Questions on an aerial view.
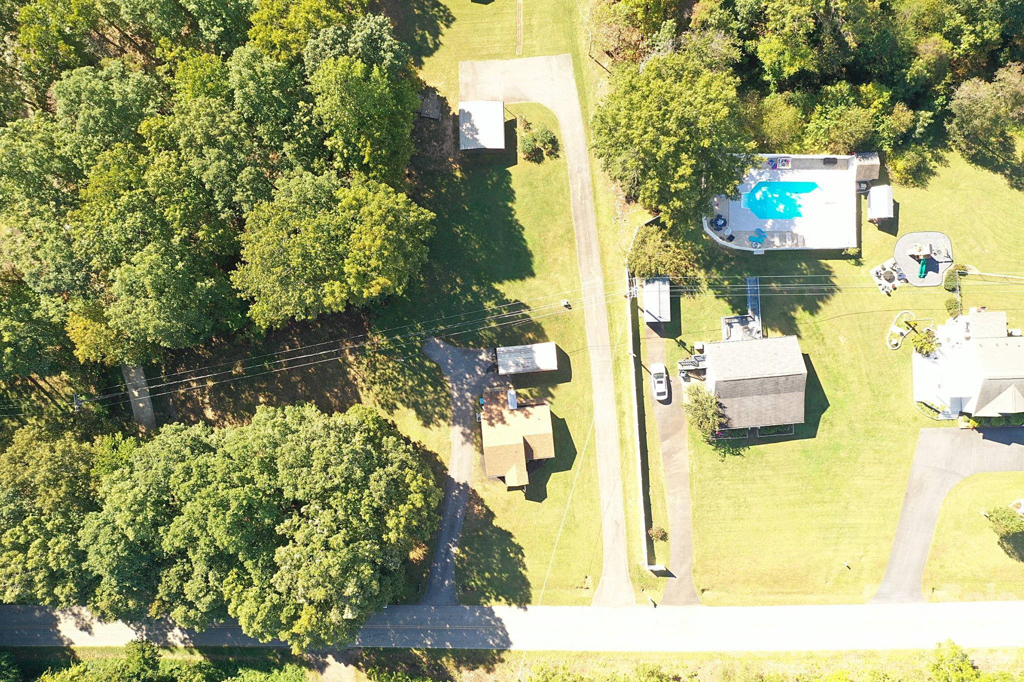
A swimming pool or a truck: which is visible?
swimming pool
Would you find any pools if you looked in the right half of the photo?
Yes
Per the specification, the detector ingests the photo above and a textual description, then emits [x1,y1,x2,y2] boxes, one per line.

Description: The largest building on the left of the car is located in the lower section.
[481,389,555,486]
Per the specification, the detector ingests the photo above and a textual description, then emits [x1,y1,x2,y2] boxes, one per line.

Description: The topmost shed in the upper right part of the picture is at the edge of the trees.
[848,151,882,182]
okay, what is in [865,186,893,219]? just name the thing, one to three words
shed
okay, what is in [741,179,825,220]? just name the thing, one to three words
swimming pool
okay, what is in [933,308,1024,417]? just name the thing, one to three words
house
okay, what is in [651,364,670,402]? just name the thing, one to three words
car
